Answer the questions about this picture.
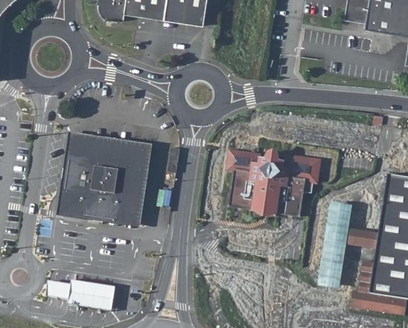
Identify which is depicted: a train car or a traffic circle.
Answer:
traffic circle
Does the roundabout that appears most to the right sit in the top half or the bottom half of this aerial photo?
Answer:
top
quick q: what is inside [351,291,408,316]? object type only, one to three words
shed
